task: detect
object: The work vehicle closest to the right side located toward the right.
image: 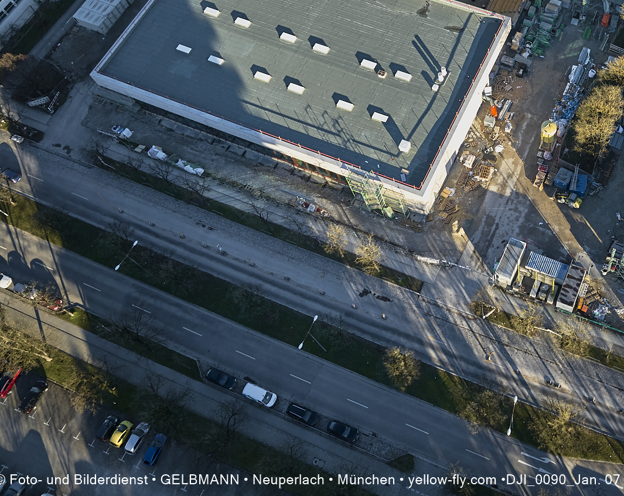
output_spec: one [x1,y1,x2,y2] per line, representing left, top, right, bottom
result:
[544,190,583,214]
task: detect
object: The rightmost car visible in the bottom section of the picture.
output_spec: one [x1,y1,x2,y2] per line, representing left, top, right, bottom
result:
[324,419,363,444]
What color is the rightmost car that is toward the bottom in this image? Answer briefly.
black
